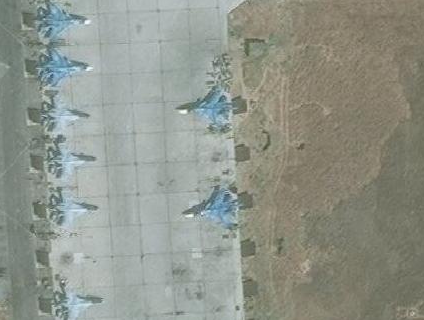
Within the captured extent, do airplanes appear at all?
Yes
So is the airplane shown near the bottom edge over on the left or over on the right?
left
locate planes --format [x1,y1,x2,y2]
[49,286,104,320]
[39,97,94,133]
[33,2,90,39]
[184,191,240,228]
[43,144,98,180]
[178,90,234,127]
[45,192,99,227]
[36,50,92,86]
